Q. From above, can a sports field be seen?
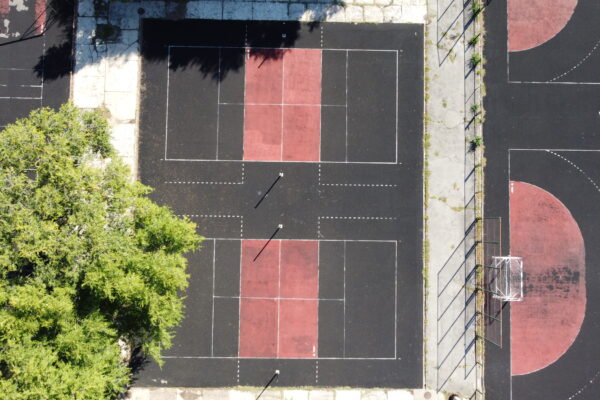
Yes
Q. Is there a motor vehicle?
No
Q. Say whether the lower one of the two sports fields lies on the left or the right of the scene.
right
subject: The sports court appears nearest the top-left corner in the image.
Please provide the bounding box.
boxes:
[0,0,46,98]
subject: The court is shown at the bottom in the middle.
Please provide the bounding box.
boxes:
[155,215,401,381]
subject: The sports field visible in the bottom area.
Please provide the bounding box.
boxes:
[509,150,600,400]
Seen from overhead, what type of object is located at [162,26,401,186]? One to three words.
sports court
